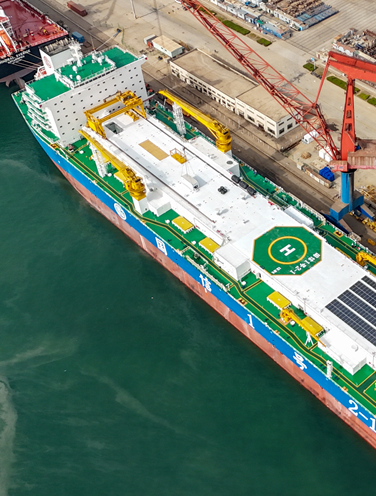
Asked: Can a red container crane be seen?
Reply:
Yes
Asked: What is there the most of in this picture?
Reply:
water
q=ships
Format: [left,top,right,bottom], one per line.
[0,0,64,90]
[12,36,376,446]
